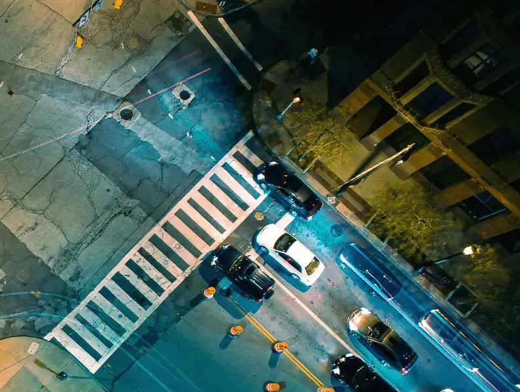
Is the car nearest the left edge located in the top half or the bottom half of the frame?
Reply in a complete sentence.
The car nearest the left edge is in the bottom half of the image.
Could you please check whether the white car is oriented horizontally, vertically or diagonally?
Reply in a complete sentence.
The white car runs diagonally in the image.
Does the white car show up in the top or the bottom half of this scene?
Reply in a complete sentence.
Seen from above, the white car lies in the bottom half of the view.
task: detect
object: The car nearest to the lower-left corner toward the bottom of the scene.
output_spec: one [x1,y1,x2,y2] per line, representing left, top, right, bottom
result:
[202,244,284,307]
